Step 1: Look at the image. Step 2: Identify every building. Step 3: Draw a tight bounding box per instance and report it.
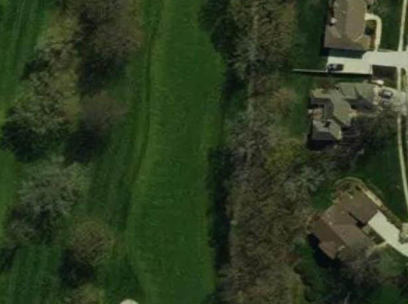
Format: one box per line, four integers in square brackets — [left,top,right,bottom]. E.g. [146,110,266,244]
[323,0,377,52]
[310,83,378,143]
[312,186,380,263]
